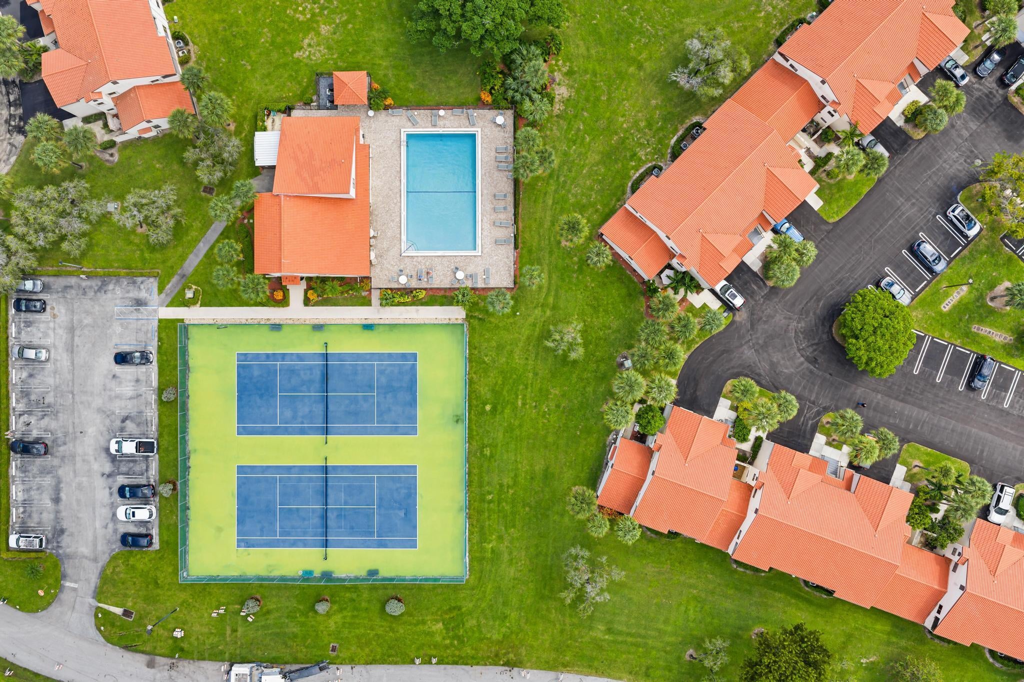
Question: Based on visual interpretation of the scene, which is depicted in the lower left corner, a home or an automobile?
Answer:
automobile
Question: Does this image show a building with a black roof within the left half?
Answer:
No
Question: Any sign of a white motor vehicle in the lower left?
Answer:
Yes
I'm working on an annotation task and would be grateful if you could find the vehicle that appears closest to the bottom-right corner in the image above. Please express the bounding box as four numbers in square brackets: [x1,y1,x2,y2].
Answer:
[986,483,1014,523]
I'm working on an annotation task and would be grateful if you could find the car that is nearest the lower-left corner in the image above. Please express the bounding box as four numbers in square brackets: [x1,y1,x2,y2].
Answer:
[9,532,48,551]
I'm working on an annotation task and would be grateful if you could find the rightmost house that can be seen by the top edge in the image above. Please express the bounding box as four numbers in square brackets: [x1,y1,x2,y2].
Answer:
[729,0,968,146]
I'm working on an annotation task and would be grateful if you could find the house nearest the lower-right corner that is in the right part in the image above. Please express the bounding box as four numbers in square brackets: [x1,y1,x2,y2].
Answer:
[869,518,1024,661]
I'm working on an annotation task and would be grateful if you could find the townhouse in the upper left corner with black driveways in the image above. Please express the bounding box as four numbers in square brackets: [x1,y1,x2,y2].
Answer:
[23,0,201,138]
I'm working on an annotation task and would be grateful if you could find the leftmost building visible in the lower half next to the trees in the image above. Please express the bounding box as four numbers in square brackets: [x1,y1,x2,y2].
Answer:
[597,406,740,542]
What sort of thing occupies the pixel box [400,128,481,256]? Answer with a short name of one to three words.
swimming pool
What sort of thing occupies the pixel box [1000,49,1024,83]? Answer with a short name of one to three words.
car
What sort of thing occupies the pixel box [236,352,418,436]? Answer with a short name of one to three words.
tennis court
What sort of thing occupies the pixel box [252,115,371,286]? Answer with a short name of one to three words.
building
